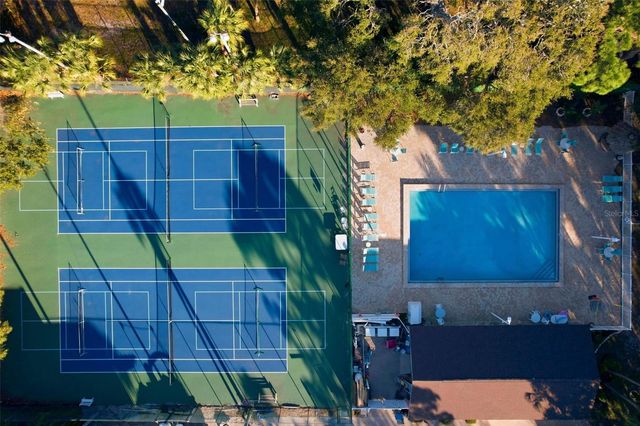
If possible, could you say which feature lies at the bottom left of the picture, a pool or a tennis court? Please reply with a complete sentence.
The one visible at the bottom left of the picture is a tennis court.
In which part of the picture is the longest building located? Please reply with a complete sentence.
The longest building appears toward the bottom right of the photo.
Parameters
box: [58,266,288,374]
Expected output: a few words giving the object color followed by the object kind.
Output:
blue tennis court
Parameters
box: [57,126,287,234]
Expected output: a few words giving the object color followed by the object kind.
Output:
blue tennis court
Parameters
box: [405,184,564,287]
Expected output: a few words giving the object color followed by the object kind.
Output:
blue swimming pool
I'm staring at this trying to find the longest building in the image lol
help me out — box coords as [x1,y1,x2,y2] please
[409,322,599,420]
